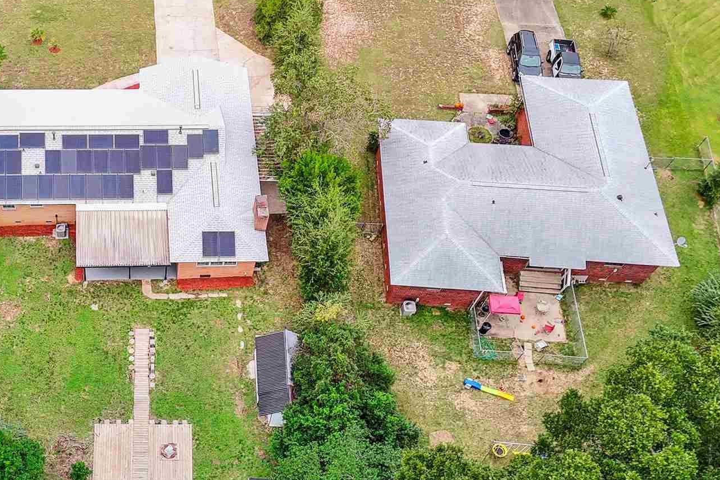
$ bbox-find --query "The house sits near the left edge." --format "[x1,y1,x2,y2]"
[0,53,270,283]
